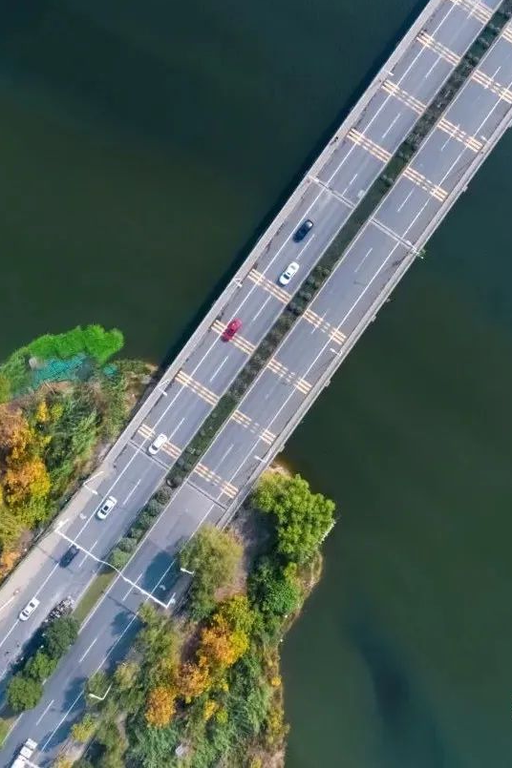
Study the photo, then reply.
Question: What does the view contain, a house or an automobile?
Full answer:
This aerial view contains an automobile.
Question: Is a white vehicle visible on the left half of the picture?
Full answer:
Yes, the scene does show a white vehicle on the left half of the picture.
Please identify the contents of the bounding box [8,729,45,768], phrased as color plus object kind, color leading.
white truck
